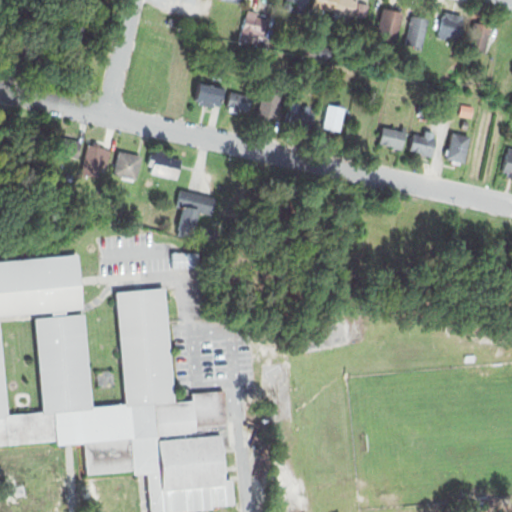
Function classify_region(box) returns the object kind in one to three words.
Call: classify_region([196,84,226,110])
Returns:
house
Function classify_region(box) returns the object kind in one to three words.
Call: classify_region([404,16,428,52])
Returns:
house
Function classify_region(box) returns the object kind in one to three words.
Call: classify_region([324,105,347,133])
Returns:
building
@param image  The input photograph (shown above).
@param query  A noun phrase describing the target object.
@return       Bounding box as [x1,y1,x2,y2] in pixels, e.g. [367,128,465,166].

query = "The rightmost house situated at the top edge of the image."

[470,24,492,54]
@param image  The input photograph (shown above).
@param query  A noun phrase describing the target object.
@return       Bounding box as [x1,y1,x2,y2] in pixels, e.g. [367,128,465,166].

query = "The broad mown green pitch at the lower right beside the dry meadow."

[349,366,512,492]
